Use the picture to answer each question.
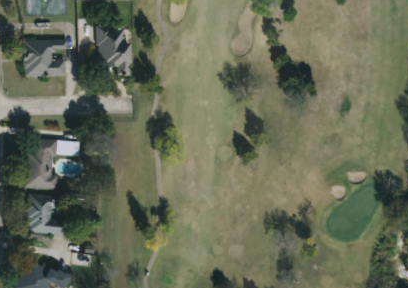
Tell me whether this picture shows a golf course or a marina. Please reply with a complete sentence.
The picture captures a golf course.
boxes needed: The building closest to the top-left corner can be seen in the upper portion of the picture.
[23,38,66,77]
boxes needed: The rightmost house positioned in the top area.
[82,24,134,78]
